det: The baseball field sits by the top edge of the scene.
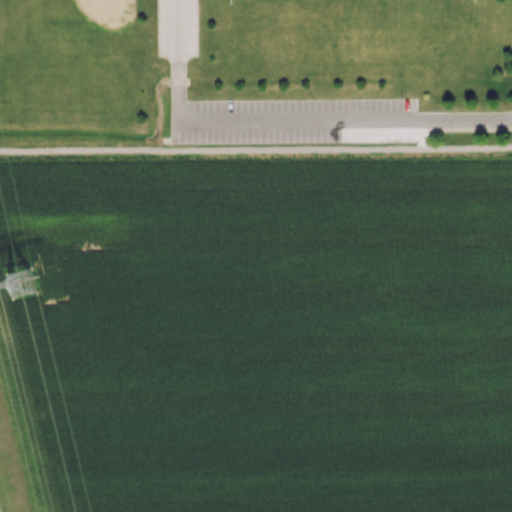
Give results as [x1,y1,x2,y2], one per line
[76,0,138,30]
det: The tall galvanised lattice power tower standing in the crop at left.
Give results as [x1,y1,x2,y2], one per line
[0,268,40,300]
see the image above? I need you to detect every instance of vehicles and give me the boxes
[406,100,410,111]
[228,99,234,113]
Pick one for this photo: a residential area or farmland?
farmland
